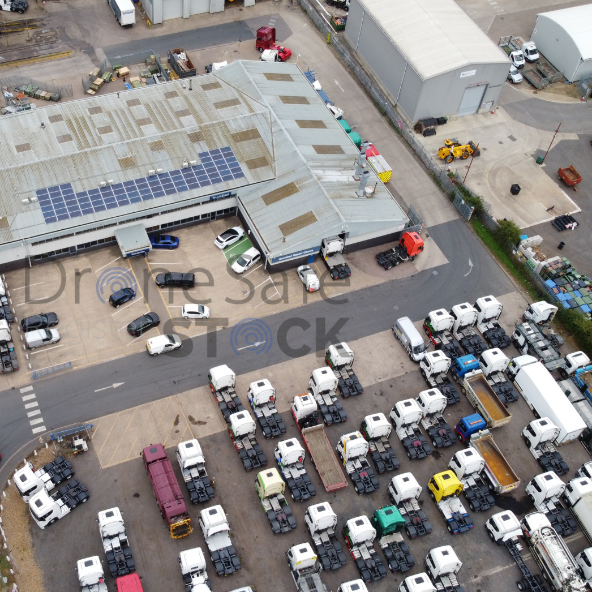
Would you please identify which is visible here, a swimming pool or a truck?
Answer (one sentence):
I can see a truck in this picture.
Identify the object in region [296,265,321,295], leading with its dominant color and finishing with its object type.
white vehicle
